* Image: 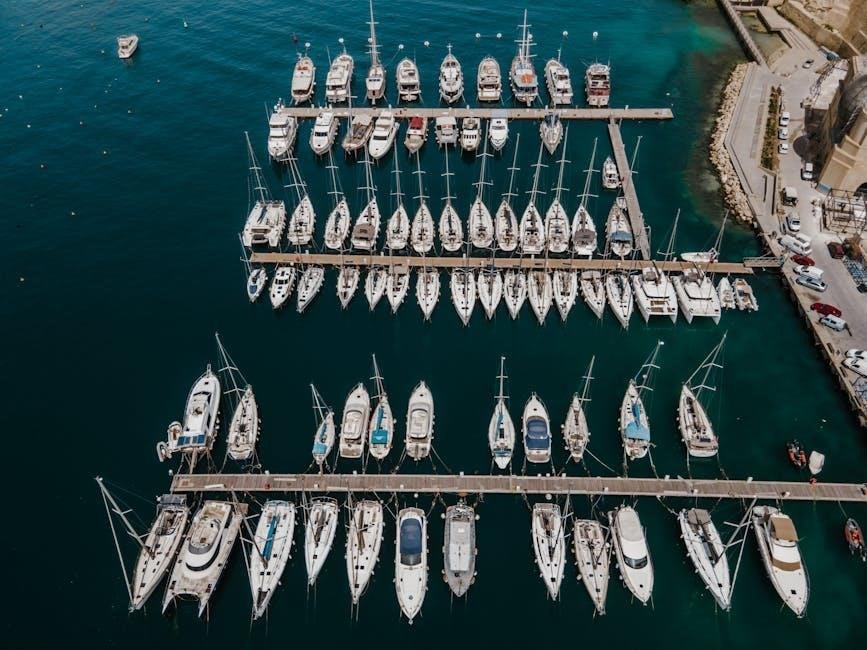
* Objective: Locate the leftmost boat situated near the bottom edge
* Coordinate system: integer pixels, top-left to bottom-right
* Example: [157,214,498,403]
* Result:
[95,476,196,633]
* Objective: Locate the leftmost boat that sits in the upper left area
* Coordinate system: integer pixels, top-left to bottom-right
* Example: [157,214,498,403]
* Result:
[119,36,139,60]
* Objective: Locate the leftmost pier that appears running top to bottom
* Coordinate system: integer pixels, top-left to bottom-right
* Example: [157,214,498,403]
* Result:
[606,118,651,259]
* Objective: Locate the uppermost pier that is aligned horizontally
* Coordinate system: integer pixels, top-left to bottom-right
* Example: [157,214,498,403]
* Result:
[290,107,675,121]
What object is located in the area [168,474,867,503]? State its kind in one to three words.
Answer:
pier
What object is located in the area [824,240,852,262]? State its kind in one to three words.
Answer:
car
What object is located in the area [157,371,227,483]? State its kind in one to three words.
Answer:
boat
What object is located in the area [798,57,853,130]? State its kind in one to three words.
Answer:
building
